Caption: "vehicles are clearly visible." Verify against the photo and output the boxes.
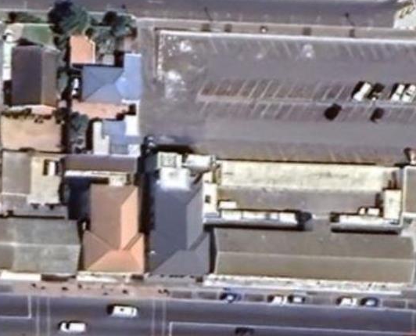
[338,298,357,306]
[356,83,370,101]
[360,298,380,307]
[390,84,406,102]
[289,295,307,305]
[368,83,382,102]
[407,149,416,167]
[60,322,85,331]
[270,295,288,303]
[370,105,385,123]
[220,293,241,302]
[325,101,342,122]
[110,306,135,315]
